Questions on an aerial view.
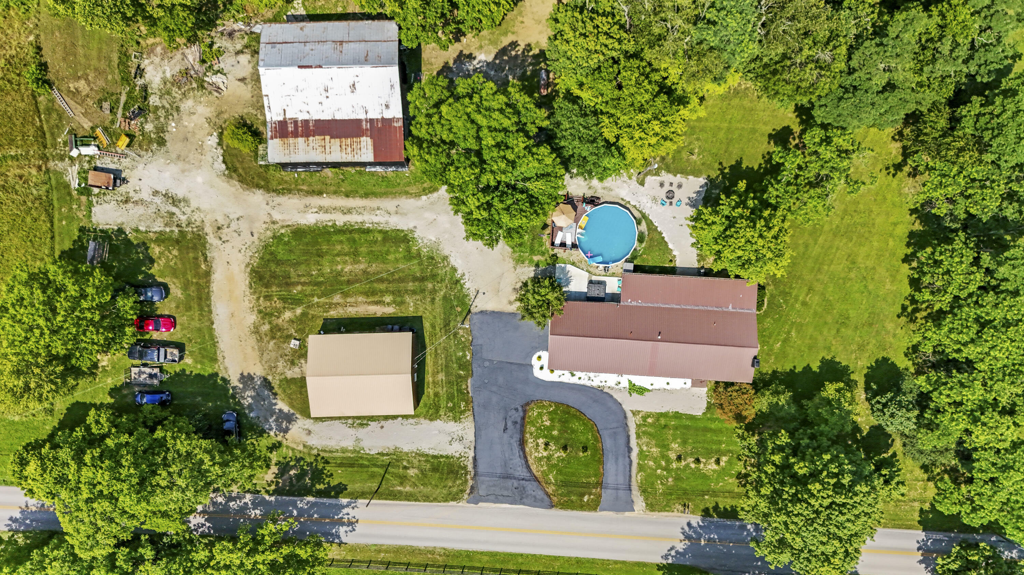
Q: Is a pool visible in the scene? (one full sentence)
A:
Yes, a pool is visible in the scene.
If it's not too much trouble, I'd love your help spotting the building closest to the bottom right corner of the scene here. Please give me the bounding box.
[548,272,761,384]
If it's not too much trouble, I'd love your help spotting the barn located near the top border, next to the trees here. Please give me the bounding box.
[258,20,408,164]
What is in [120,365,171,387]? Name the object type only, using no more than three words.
trailer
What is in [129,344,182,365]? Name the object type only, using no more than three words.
truck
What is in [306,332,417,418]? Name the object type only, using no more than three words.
building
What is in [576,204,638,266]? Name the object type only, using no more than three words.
swimming pool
